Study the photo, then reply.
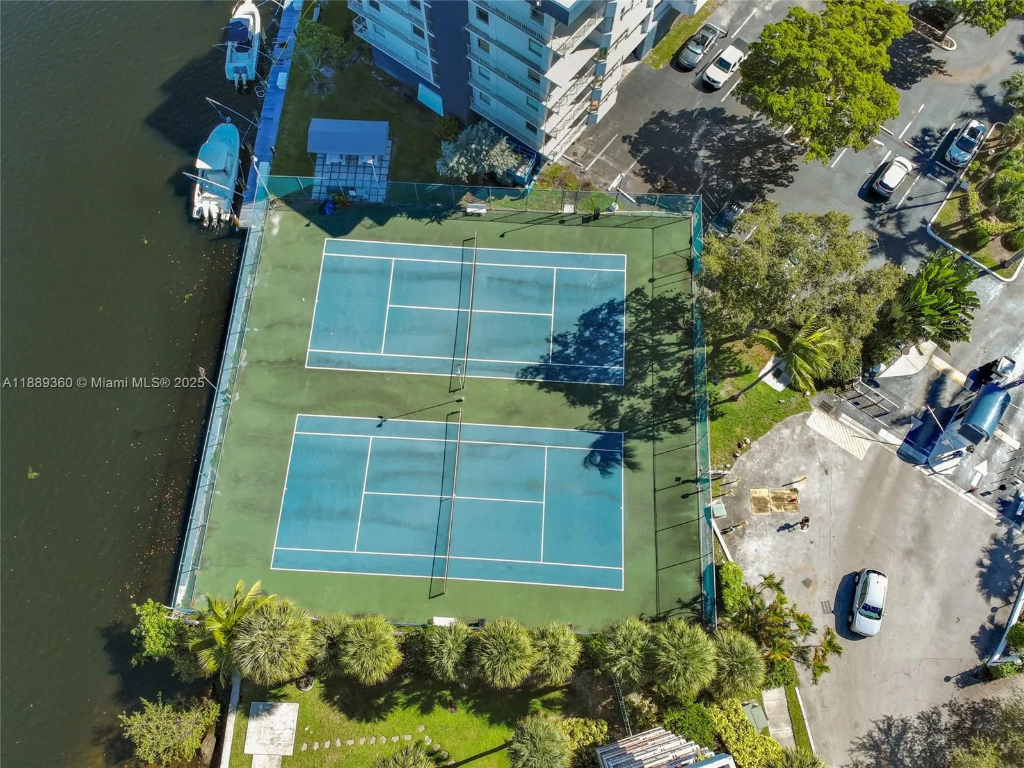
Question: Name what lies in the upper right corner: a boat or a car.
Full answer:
What appears in the upper right corner is a car.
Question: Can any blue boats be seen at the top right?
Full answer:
No, at the top right there is no blue boat.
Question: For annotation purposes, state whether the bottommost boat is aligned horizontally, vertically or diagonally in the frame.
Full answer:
The bottommost boat is oriented vertically.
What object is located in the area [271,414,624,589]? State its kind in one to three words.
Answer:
tennis court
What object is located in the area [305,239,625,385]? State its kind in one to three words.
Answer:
tennis court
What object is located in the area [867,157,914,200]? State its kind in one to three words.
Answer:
car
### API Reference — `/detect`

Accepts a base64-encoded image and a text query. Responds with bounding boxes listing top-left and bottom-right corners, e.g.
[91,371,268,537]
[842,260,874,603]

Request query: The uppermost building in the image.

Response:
[335,0,705,166]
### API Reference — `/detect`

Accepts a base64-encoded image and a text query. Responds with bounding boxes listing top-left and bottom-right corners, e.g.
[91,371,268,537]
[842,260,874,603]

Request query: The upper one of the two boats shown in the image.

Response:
[222,0,261,78]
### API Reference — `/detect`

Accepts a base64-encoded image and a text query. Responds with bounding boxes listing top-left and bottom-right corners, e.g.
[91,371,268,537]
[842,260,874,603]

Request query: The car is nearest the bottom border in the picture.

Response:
[846,566,887,640]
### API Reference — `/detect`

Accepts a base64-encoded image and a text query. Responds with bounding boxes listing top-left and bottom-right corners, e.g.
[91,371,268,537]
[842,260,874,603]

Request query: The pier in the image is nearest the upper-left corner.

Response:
[240,0,302,206]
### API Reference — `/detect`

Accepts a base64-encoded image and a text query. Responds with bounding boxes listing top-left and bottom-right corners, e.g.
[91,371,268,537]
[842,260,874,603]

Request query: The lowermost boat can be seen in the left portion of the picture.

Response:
[193,120,243,223]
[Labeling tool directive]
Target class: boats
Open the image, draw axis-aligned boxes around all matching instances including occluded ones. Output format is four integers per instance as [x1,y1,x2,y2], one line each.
[193,120,243,223]
[222,0,261,78]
